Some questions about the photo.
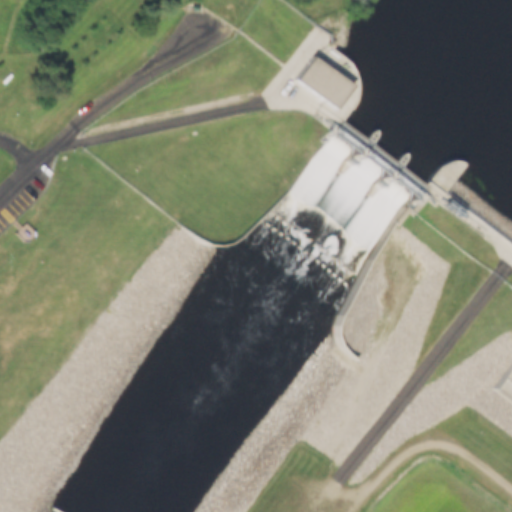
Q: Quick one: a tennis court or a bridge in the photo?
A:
bridge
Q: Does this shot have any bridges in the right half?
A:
Yes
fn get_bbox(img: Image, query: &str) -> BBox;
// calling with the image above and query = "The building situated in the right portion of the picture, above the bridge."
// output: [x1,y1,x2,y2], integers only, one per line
[299,56,356,111]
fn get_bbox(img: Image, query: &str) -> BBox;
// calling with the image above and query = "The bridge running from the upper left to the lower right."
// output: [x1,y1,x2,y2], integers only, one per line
[328,117,442,205]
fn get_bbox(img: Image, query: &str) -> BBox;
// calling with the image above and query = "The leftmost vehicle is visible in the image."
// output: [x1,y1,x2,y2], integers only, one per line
[2,74,15,86]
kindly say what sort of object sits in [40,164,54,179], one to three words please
vehicle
